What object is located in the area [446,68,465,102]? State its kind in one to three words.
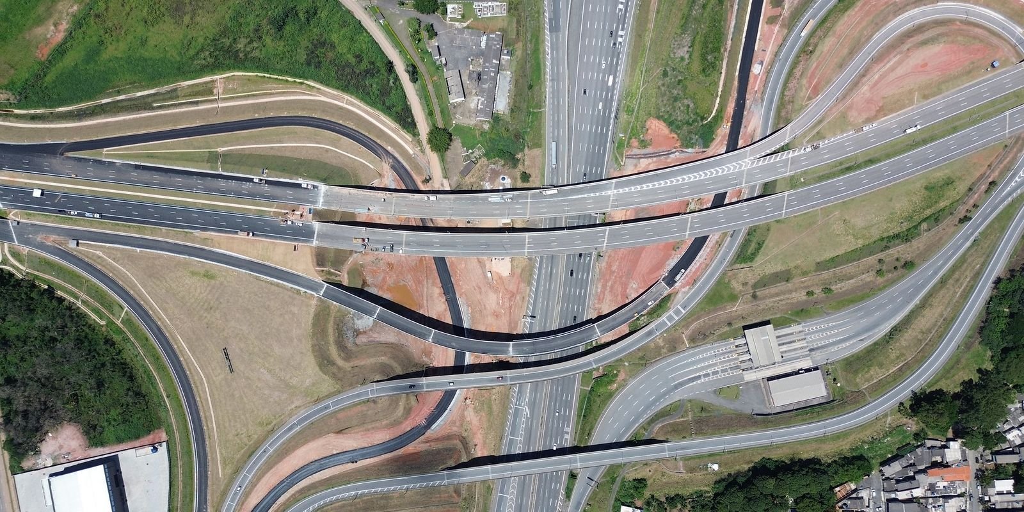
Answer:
building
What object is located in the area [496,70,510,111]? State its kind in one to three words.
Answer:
shed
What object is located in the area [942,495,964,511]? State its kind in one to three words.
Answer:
house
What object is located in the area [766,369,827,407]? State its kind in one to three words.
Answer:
building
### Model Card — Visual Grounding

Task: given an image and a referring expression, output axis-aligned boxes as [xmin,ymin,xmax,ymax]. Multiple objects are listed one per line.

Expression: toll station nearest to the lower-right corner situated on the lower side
[731,325,812,382]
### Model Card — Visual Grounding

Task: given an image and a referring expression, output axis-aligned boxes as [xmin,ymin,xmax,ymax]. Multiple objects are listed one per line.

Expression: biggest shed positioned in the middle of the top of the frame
[477,32,502,120]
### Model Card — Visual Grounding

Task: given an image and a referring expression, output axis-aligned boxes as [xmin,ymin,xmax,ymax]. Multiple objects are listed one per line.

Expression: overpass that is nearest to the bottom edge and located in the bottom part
[445,443,668,485]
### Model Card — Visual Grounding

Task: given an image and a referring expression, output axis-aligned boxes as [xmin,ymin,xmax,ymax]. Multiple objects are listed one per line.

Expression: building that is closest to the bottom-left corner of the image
[41,460,125,512]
